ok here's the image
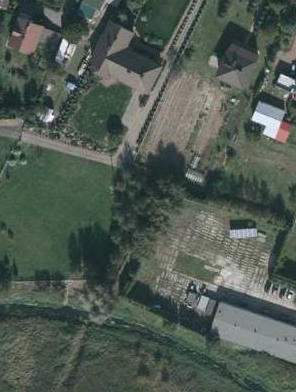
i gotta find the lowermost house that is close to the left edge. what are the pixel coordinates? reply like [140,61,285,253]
[7,18,45,56]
